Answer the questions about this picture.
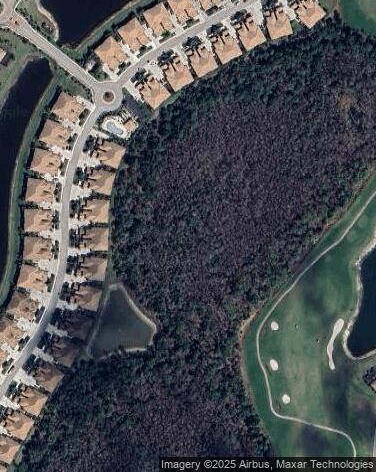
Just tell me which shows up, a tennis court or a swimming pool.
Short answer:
swimming pool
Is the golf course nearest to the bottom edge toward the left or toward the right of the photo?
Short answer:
right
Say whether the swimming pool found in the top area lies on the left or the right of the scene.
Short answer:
left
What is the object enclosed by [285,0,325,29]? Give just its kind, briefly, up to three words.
house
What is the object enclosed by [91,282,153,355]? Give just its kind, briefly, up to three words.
pond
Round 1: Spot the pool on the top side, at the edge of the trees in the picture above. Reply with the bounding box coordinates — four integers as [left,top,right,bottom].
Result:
[101,115,130,140]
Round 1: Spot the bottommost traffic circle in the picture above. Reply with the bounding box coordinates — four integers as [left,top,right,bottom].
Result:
[95,82,123,110]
